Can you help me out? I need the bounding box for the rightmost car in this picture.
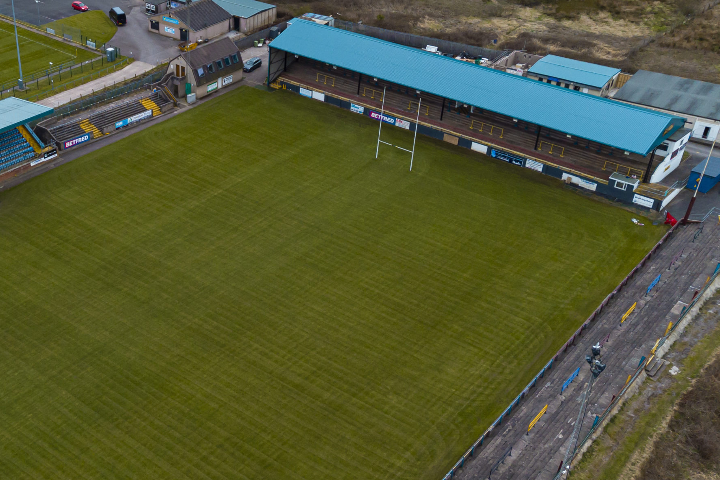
[244,56,266,71]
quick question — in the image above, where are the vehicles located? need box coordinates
[110,6,124,23]
[244,56,266,71]
[69,0,88,11]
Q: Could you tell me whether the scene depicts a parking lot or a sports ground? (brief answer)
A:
sports ground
